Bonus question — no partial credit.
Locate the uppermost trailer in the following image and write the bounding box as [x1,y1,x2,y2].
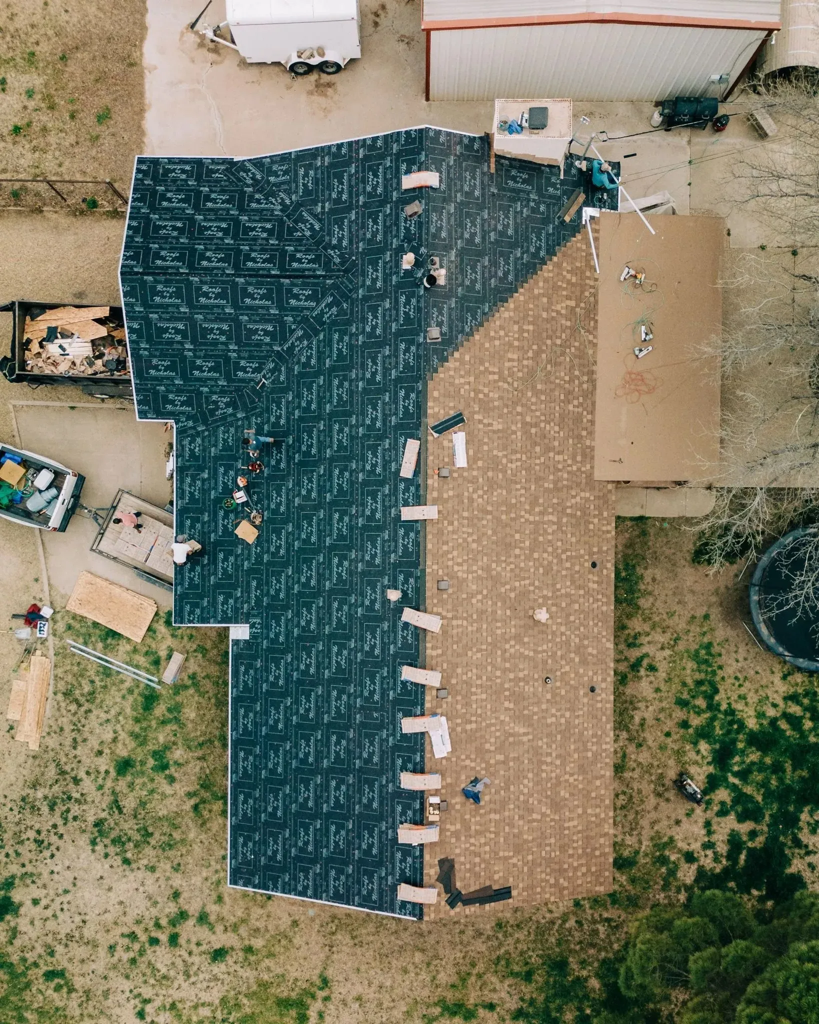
[207,0,363,74]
